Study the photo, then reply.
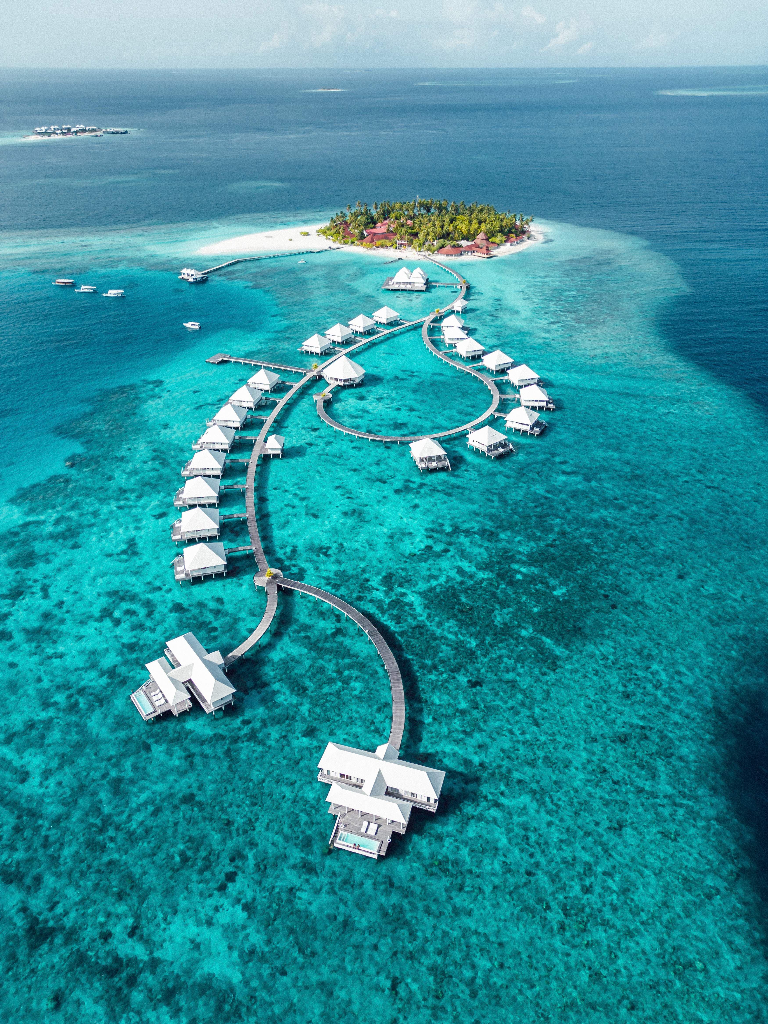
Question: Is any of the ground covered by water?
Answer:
Yes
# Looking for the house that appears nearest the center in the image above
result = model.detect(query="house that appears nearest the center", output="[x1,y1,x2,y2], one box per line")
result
[409,437,454,480]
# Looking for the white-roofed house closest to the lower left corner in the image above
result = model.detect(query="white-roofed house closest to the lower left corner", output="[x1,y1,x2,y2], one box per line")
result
[168,542,230,593]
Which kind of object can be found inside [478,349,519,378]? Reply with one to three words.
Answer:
house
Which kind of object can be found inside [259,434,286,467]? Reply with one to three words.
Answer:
shed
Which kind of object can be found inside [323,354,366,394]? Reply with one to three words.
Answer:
building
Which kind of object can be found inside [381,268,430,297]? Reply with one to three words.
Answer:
building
